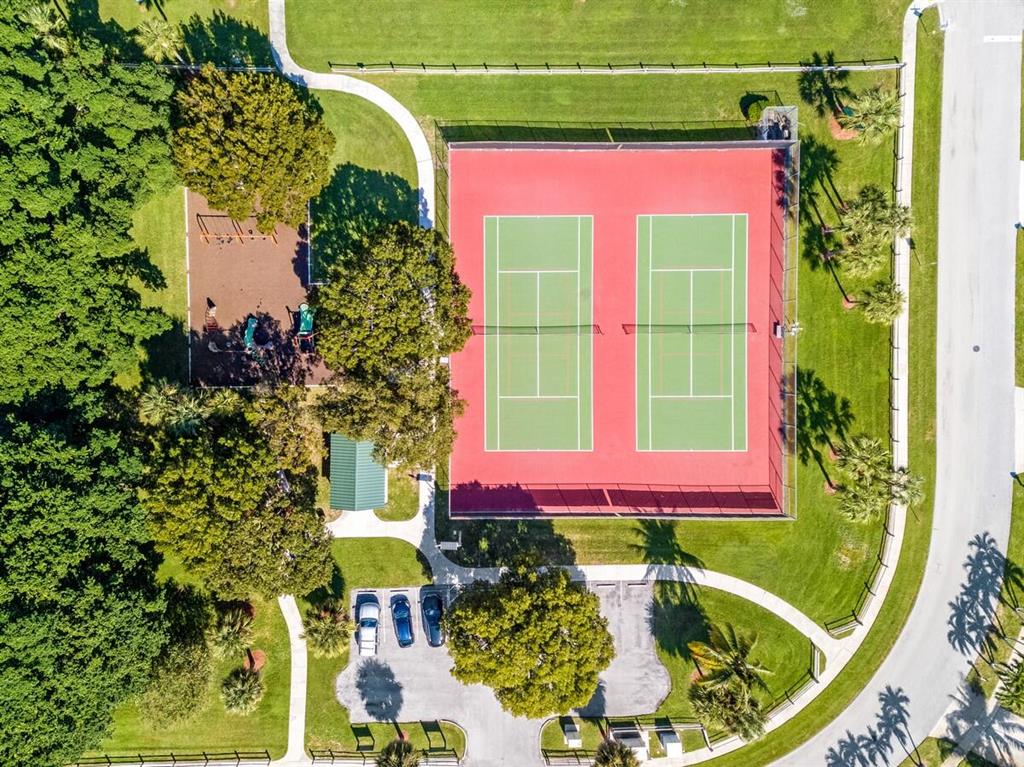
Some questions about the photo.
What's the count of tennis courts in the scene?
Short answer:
2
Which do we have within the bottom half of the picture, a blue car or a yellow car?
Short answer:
blue car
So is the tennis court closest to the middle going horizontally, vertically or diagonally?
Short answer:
vertically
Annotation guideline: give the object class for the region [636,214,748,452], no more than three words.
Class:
tennis court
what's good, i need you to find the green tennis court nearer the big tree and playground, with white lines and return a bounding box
[485,215,593,451]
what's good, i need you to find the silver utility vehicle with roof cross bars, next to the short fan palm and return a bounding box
[355,604,379,657]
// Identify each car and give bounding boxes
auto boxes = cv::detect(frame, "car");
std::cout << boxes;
[355,604,379,657]
[390,598,413,647]
[421,597,443,645]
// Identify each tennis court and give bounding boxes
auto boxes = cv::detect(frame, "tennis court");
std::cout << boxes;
[485,215,593,451]
[636,214,748,452]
